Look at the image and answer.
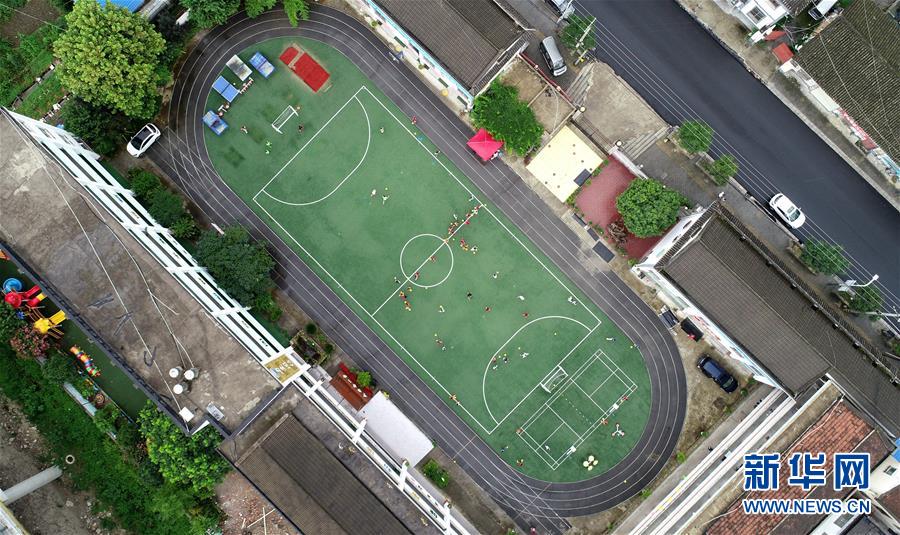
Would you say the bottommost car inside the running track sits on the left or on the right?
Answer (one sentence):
It is on the left.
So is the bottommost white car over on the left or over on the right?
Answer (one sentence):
The bottommost white car sits on the right side.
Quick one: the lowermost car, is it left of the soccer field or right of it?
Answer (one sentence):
To the right of the soccer field is where the lowermost car appears.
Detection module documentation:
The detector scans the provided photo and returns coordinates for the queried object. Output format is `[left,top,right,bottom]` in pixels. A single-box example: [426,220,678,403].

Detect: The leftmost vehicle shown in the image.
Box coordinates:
[128,122,163,157]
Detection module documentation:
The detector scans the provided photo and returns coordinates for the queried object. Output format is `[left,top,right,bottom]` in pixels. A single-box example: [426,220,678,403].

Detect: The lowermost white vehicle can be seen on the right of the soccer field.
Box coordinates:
[767,192,804,228]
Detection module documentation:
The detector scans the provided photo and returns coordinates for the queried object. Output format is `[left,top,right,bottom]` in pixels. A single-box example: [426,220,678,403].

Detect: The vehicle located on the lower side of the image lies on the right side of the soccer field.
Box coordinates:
[695,354,736,392]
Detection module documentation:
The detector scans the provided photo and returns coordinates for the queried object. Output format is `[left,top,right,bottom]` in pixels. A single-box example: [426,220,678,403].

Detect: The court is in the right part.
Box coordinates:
[517,350,637,470]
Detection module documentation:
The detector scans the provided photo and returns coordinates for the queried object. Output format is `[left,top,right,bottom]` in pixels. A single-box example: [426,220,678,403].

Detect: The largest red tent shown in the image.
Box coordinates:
[470,123,504,159]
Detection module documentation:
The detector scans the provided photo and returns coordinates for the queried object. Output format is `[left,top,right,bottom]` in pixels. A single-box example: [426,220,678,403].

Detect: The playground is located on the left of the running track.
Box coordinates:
[2,275,67,339]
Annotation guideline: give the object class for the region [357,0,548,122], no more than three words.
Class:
building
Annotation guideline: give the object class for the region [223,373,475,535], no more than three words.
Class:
building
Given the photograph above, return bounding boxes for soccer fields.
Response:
[204,37,651,484]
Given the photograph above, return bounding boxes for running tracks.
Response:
[108,2,686,535]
